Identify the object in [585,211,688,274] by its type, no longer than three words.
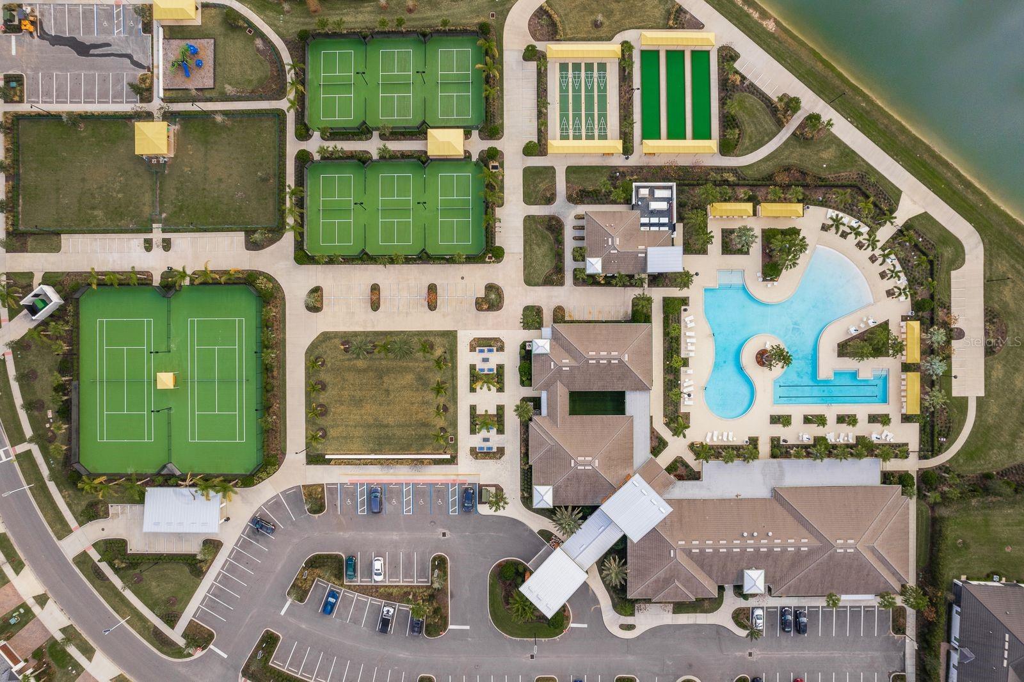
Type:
building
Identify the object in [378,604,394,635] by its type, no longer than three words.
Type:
vehicle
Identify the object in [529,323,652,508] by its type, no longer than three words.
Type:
building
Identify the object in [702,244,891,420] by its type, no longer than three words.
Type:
swimming pool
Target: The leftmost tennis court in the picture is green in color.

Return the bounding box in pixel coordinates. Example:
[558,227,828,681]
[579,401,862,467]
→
[79,285,167,474]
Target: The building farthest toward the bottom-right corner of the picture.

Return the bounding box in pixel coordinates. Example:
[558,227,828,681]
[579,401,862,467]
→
[951,580,1024,682]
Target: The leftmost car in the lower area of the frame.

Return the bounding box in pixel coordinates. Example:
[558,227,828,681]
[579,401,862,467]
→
[251,516,275,535]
